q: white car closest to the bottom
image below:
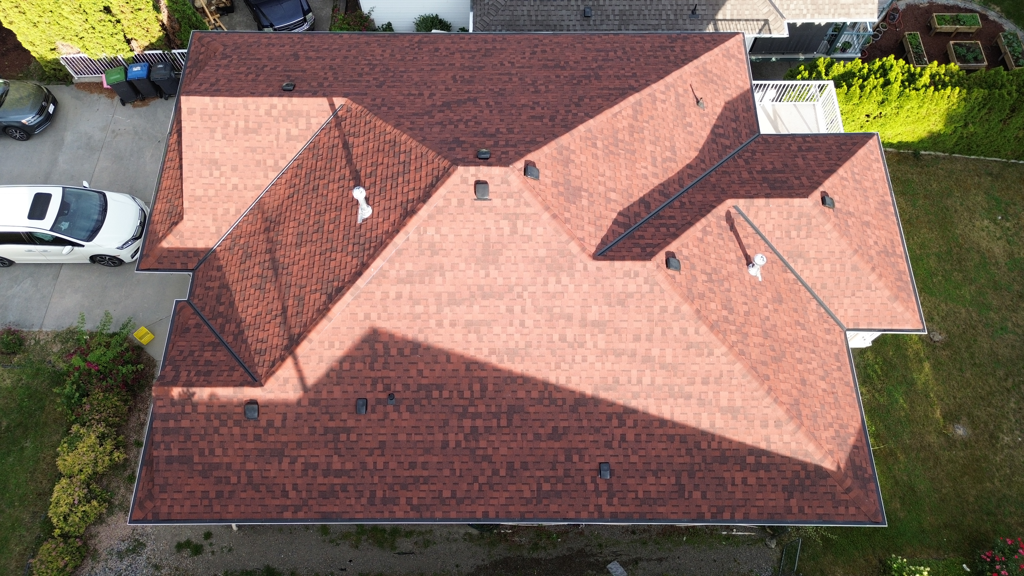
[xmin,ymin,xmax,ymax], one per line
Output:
[0,177,151,267]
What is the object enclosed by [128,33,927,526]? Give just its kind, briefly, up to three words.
house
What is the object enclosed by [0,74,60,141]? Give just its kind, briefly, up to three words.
car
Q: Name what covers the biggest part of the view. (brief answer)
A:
buildings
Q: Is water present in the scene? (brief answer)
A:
No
